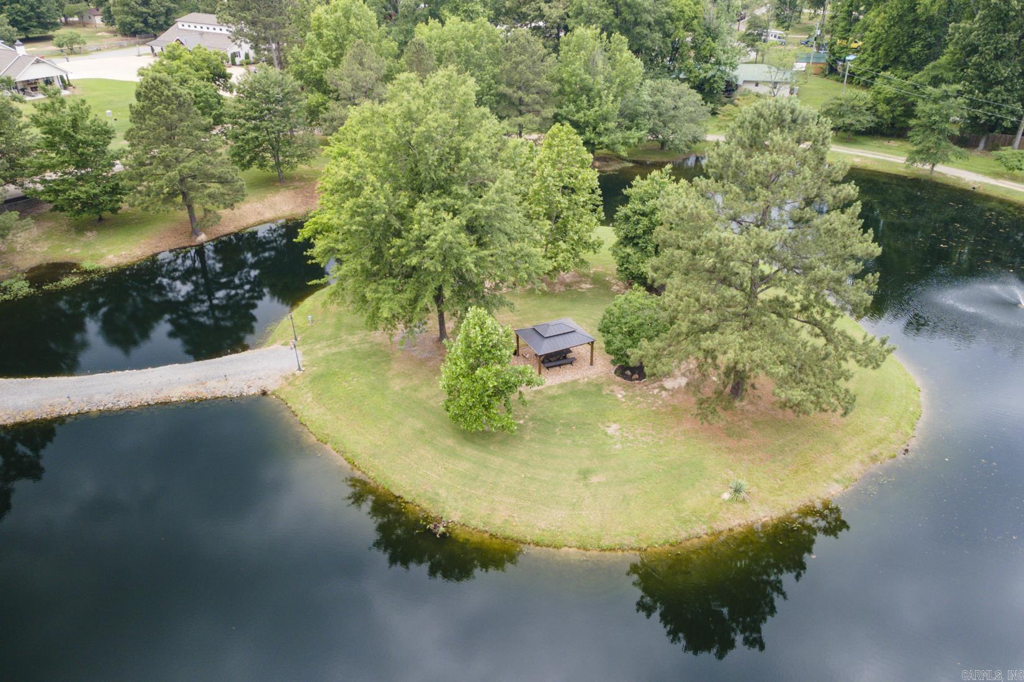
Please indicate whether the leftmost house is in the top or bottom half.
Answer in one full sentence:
The leftmost house sits in the top half of the picture.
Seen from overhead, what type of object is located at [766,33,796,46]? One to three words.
vehicle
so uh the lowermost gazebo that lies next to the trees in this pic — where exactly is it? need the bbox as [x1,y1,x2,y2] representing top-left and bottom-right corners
[517,316,598,376]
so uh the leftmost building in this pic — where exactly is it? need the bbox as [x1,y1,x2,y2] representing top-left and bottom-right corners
[0,37,72,100]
